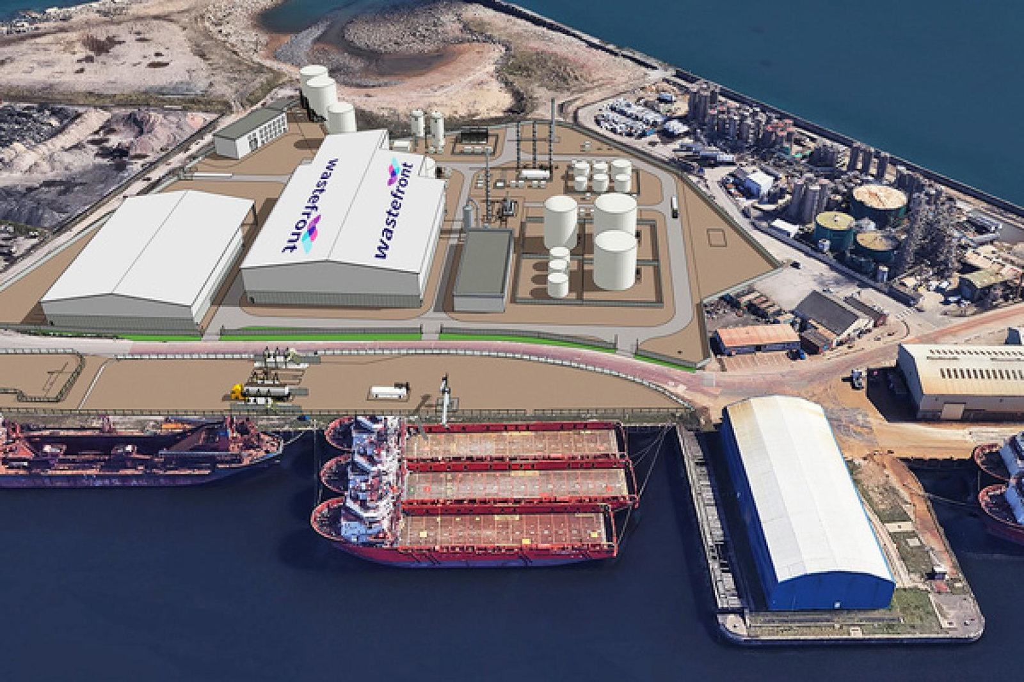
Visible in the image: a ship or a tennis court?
ship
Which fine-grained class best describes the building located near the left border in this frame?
warehouse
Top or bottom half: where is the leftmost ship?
bottom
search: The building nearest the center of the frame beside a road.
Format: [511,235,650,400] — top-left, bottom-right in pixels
[454,225,512,315]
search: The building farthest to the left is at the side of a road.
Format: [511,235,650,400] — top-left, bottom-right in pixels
[39,189,255,331]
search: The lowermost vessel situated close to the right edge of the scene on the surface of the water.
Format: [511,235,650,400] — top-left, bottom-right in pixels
[977,485,1024,548]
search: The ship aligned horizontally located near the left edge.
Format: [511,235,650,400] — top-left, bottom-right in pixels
[0,406,282,486]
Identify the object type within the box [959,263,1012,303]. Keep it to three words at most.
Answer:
shed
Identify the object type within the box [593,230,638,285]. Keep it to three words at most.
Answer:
storage tank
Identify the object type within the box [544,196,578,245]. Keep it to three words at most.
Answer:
storage tank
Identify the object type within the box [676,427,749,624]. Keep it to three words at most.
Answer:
pier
